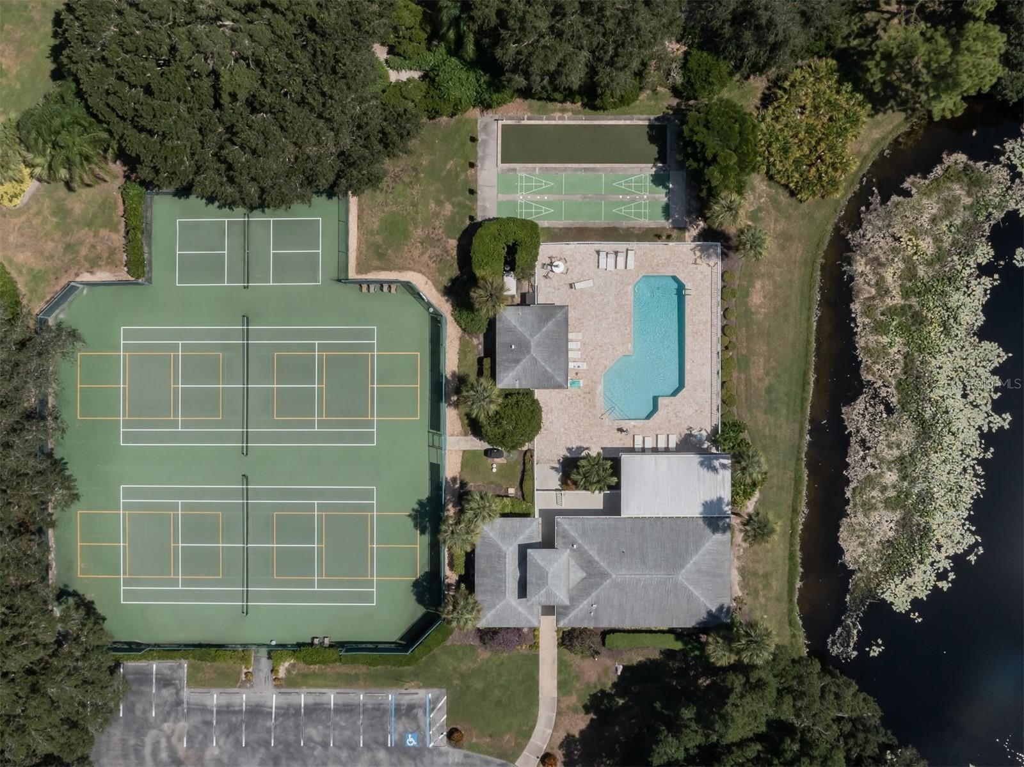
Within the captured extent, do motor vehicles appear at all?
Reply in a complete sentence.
No, the scene contains no motor vehicle.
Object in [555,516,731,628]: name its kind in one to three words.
building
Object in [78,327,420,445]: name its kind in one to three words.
tennis court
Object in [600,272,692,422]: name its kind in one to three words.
swimming pool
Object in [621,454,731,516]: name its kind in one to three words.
building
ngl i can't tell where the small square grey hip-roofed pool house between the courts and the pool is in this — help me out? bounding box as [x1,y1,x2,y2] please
[496,304,569,390]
